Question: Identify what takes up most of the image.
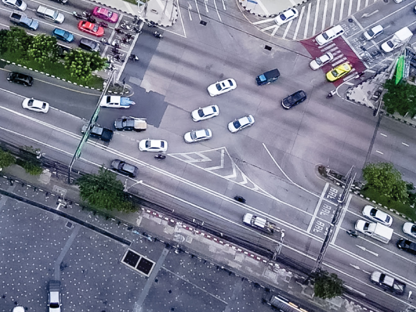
paved ground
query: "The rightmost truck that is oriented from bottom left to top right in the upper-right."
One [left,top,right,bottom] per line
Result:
[380,25,416,53]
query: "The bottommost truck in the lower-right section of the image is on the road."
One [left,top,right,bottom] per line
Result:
[370,269,413,298]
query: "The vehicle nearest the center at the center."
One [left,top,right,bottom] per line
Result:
[182,128,214,146]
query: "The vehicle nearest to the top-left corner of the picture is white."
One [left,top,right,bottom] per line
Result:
[0,0,29,12]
